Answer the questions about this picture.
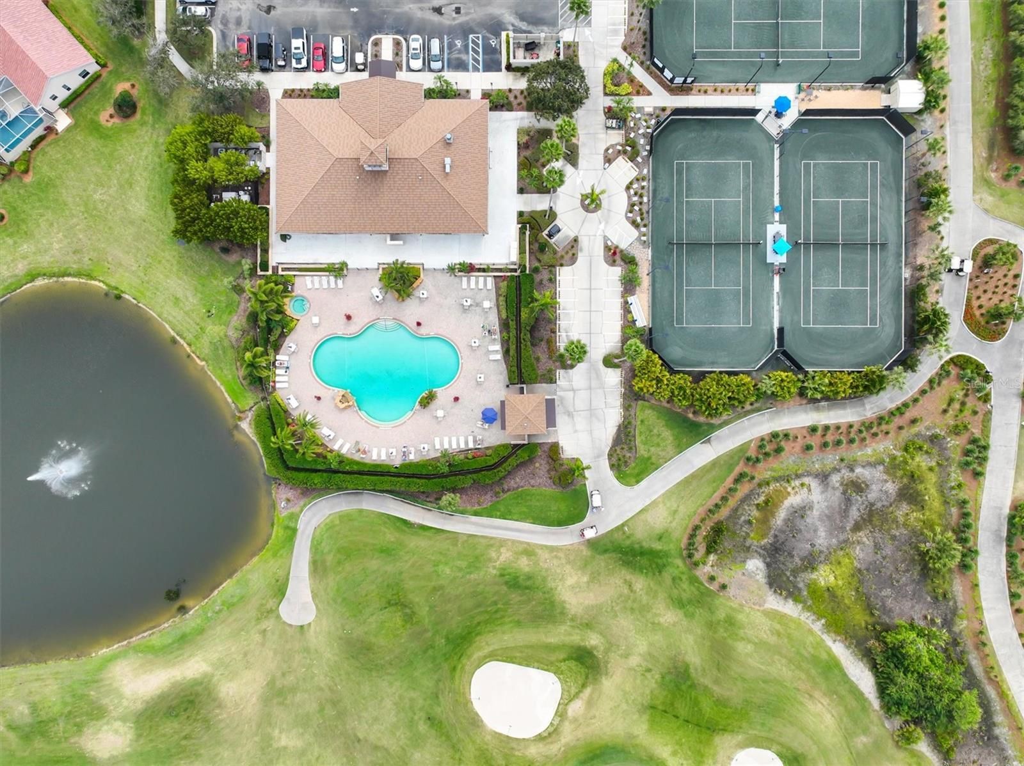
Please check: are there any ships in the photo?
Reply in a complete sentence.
No, I can see no ship in this picture.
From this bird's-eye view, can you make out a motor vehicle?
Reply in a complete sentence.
Yes, the photo shows a motor vehicle.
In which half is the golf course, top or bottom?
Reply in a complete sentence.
You can find the golf course in the bottom half.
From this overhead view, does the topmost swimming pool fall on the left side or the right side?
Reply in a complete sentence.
The topmost swimming pool appears in the left half of the scene.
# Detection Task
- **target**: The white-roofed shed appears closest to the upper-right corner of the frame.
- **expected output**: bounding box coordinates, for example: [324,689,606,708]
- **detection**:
[881,81,926,113]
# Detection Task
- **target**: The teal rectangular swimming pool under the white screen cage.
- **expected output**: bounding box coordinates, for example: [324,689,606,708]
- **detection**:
[0,104,45,156]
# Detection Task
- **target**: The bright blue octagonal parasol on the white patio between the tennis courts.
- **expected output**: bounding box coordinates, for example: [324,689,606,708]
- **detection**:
[773,97,789,114]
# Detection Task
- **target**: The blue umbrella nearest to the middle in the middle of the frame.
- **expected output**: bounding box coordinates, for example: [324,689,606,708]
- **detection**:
[482,408,497,423]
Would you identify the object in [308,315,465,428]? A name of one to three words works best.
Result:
swimming pool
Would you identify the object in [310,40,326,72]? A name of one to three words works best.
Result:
car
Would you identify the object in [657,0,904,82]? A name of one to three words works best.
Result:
tennis court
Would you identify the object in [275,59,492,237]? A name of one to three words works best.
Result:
building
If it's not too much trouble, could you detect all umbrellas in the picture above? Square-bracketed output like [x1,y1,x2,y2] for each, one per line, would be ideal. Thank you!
[773,97,789,114]
[482,408,497,423]
[771,236,791,256]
